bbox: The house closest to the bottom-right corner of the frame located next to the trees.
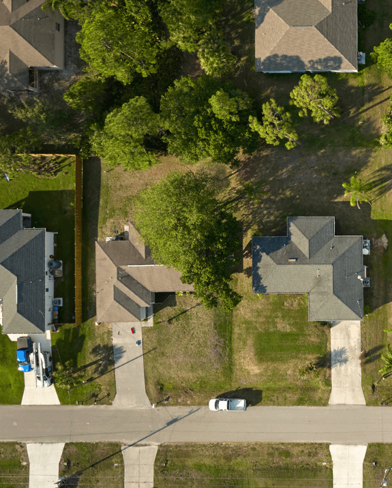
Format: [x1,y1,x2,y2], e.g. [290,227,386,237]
[252,216,364,320]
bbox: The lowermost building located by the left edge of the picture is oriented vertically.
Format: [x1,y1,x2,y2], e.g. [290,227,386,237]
[0,209,55,335]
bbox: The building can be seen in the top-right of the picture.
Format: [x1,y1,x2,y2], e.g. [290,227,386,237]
[254,0,359,75]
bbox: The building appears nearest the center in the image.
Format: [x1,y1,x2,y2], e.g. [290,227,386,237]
[94,219,192,323]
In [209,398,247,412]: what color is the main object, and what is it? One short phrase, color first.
white vehicle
